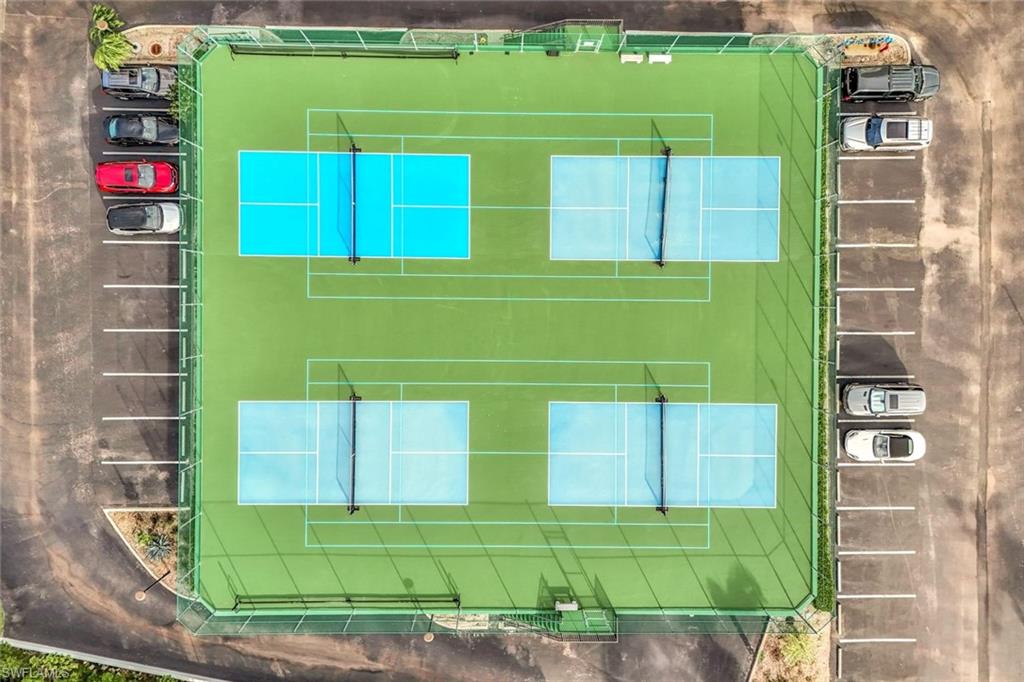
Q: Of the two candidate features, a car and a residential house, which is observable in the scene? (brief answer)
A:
car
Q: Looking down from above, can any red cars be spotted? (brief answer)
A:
Yes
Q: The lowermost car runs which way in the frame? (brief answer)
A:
horizontally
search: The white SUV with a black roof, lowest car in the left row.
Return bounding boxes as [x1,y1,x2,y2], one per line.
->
[104,201,186,237]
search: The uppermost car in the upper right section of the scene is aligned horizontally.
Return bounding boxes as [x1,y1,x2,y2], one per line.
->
[839,63,937,104]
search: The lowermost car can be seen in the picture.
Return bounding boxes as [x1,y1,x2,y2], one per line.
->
[843,429,925,466]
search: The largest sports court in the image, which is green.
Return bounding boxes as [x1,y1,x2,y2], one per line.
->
[193,41,824,619]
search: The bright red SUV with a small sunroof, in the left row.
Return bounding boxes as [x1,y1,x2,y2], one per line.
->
[97,158,183,195]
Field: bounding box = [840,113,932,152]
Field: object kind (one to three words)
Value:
car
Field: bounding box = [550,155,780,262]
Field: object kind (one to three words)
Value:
sports court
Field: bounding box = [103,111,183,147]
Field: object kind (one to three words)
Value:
car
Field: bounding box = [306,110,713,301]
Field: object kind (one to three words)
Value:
tennis court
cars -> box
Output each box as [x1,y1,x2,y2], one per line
[97,158,183,195]
[840,113,932,152]
[841,384,927,420]
[103,111,183,147]
[104,201,186,237]
[100,62,183,101]
[843,429,925,466]
[839,63,937,104]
